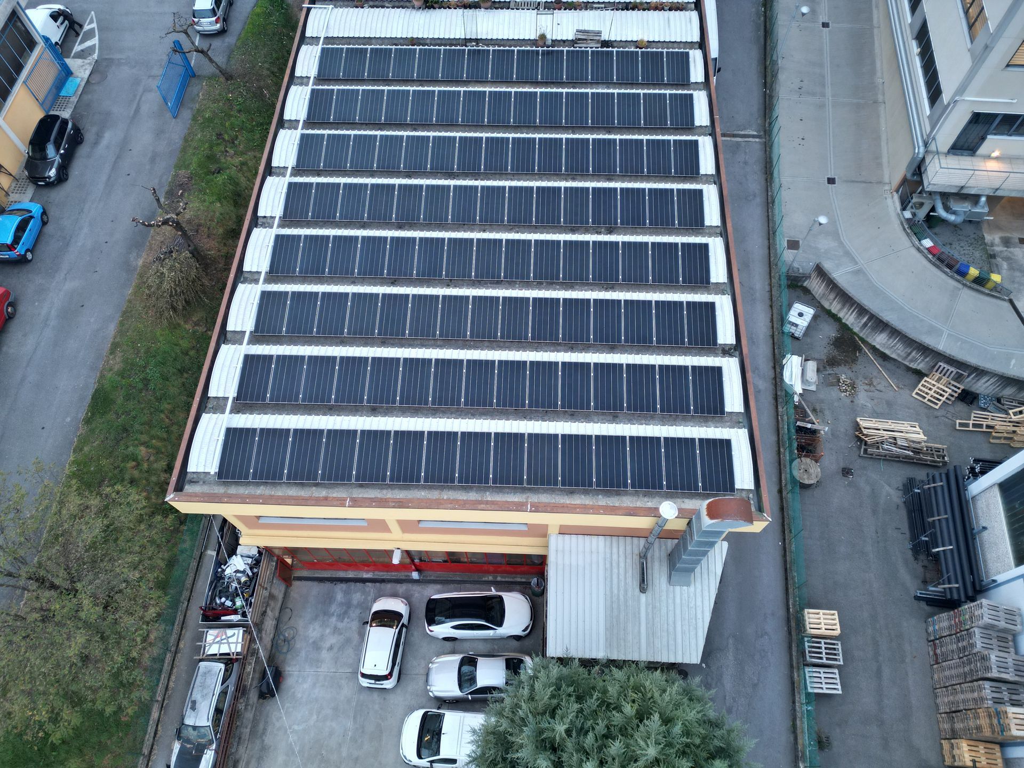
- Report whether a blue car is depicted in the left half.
Yes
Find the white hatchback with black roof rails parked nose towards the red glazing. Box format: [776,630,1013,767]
[356,596,408,690]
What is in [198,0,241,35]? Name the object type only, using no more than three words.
car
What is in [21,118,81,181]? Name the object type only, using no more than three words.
car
